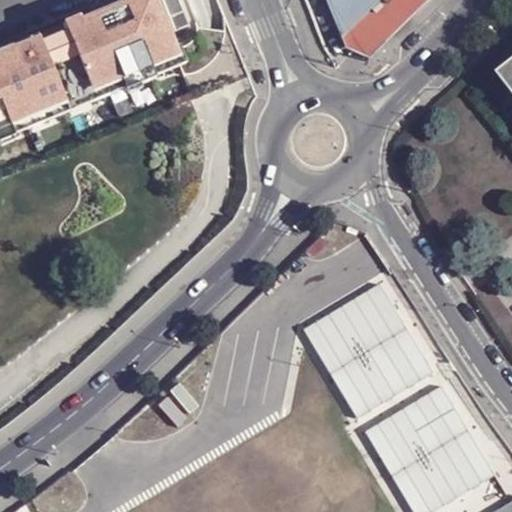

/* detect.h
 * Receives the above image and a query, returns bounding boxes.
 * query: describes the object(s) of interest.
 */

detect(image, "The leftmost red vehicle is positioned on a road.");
[62,392,84,410]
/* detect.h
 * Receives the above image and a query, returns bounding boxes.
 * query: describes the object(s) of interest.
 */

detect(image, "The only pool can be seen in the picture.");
[72,114,88,133]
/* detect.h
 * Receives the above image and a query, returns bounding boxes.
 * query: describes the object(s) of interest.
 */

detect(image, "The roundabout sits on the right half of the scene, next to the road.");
[254,52,412,234]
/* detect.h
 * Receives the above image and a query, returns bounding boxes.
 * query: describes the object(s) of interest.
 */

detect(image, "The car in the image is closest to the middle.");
[290,260,305,272]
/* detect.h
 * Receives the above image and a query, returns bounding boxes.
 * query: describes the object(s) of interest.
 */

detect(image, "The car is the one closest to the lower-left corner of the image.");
[15,428,36,446]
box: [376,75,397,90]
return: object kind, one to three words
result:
car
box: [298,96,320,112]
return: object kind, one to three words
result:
car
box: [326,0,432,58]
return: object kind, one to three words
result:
building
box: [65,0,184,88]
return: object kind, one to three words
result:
house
